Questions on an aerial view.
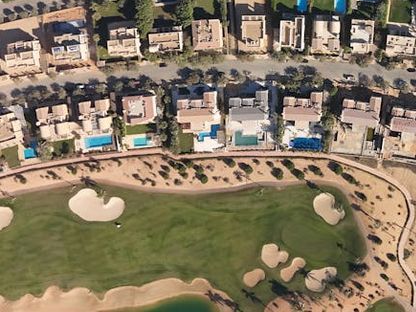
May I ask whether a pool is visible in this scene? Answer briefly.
Yes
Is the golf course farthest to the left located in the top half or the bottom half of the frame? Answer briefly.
bottom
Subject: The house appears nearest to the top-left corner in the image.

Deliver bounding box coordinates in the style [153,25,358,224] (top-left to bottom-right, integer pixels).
[5,39,44,75]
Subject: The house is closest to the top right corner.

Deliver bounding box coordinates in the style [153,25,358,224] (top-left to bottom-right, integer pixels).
[387,34,416,56]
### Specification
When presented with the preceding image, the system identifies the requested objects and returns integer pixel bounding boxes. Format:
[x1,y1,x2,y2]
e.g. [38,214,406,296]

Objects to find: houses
[387,34,416,56]
[80,98,115,132]
[312,15,341,54]
[0,109,27,140]
[121,94,158,124]
[389,106,416,141]
[341,95,383,132]
[279,16,307,49]
[192,19,224,51]
[37,103,72,138]
[242,15,267,47]
[283,91,324,129]
[53,30,93,67]
[149,30,185,51]
[109,27,143,56]
[228,91,271,129]
[350,20,375,53]
[5,39,44,75]
[177,92,219,130]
